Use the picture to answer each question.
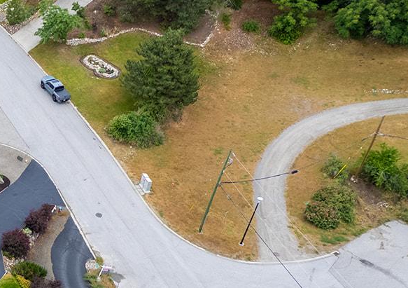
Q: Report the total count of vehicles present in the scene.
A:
1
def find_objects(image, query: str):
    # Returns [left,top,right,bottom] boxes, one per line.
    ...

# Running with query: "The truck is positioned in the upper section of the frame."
[38,71,72,100]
